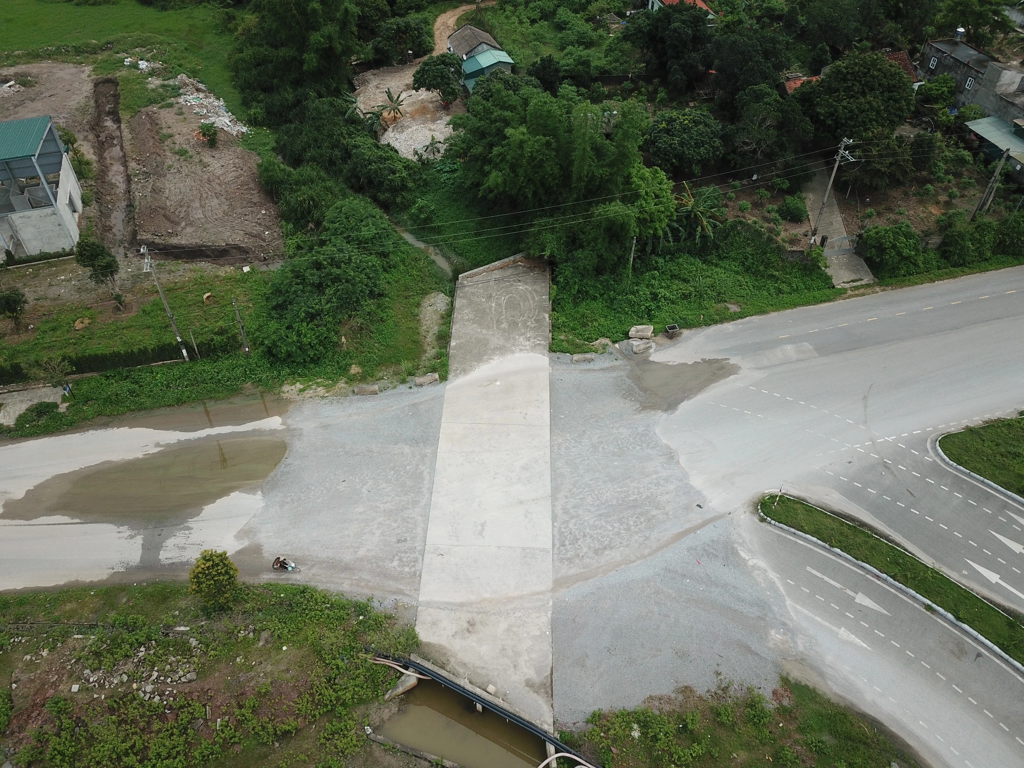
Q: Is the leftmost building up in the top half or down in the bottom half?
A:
top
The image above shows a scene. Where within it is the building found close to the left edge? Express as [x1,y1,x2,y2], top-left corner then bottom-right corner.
[0,115,85,266]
